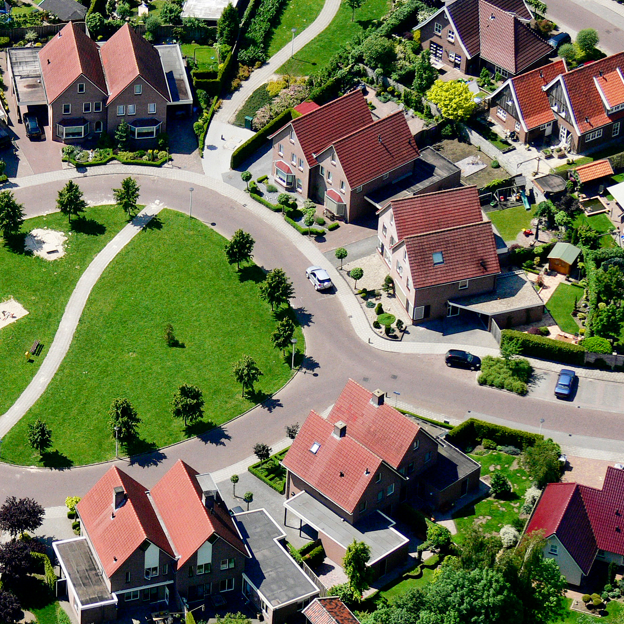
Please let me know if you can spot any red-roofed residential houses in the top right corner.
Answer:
Yes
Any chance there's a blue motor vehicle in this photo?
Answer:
Yes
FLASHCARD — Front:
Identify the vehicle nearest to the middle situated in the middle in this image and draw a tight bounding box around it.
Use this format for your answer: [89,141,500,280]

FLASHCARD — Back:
[303,263,333,289]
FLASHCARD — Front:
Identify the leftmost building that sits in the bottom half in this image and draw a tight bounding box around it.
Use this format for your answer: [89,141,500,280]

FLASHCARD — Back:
[53,459,320,624]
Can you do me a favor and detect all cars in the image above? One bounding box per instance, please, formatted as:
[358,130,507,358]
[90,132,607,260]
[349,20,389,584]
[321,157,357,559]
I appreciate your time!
[555,369,575,398]
[546,28,575,50]
[23,111,41,136]
[445,353,480,372]
[227,498,258,515]
[303,263,333,289]
[0,122,11,147]
[173,103,187,120]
